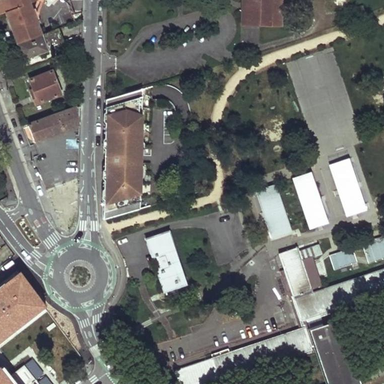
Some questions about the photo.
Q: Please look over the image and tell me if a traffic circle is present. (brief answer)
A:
Yes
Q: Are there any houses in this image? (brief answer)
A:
Yes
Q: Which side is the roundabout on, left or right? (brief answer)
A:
left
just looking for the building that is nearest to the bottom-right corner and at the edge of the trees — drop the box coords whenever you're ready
[310,321,360,384]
